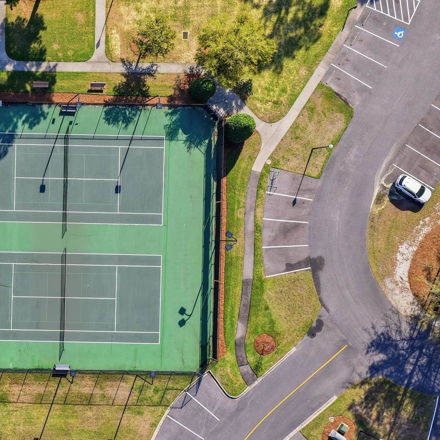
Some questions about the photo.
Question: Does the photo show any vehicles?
Yes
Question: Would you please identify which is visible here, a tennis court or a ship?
tennis court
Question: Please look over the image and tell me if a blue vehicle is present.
No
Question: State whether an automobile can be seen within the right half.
Yes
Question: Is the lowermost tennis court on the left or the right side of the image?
left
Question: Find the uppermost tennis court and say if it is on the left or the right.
left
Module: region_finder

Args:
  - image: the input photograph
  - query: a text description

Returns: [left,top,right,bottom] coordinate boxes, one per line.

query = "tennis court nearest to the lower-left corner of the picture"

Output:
[0,235,213,372]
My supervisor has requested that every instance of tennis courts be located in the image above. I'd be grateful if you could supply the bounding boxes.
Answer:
[0,235,213,372]
[0,106,215,237]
